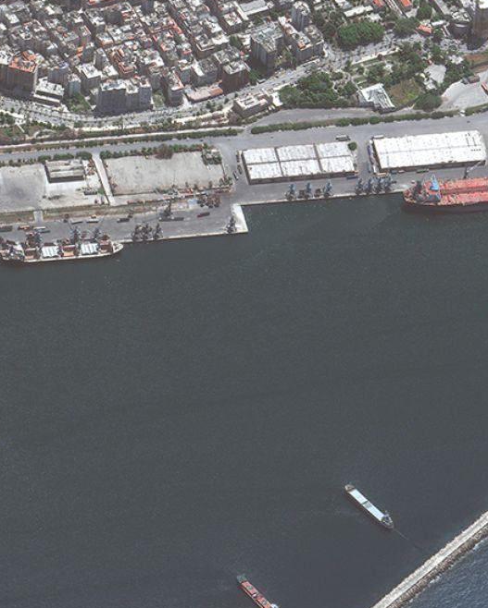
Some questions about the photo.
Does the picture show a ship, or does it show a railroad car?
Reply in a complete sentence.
Looking from above, you can make out a ship.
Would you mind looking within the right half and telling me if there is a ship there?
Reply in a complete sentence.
Yes, you'll find a ship within the right half.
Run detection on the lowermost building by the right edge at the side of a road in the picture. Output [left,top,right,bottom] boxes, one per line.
[373,130,485,173]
